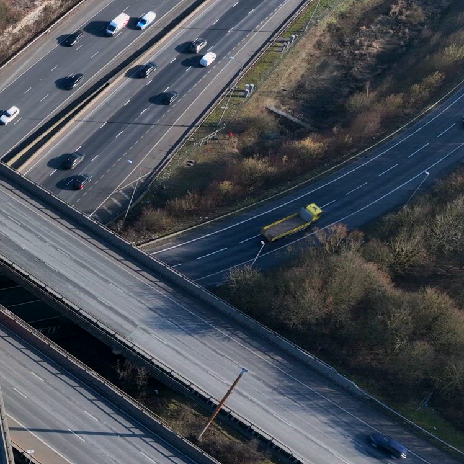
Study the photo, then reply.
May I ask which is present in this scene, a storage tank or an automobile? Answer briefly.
automobile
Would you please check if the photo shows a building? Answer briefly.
No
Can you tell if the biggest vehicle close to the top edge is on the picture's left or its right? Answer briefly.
left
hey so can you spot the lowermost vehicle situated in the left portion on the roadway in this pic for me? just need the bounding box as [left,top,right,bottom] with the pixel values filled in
[69,173,91,192]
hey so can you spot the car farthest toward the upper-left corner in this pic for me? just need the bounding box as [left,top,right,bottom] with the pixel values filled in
[64,33,81,47]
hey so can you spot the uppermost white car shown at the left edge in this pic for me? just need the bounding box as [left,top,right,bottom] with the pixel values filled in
[0,107,19,124]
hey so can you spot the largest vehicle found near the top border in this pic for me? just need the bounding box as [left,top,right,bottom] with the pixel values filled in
[106,13,128,35]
